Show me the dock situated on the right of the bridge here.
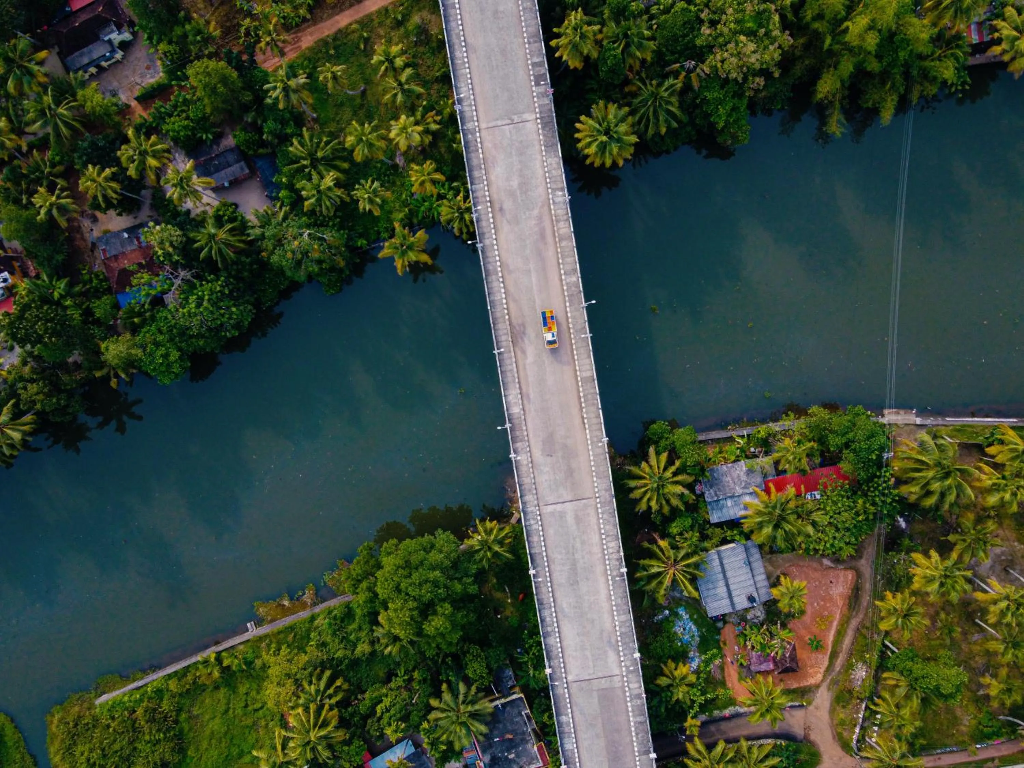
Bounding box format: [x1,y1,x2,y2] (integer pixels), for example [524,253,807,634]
[879,406,916,424]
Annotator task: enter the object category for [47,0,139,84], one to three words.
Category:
house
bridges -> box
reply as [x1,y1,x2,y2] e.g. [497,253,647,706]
[438,0,656,768]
